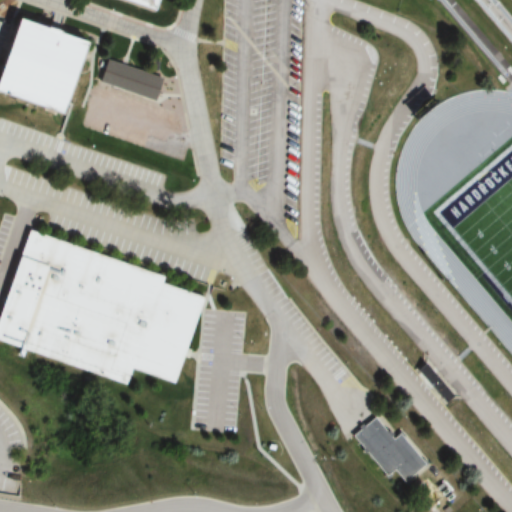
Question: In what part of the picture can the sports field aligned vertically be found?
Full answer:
The sports field aligned vertically appears toward the right of the photo.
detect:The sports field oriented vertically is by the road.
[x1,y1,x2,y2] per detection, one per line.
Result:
[422,136,512,322]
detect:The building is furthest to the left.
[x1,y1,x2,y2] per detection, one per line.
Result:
[0,17,90,116]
